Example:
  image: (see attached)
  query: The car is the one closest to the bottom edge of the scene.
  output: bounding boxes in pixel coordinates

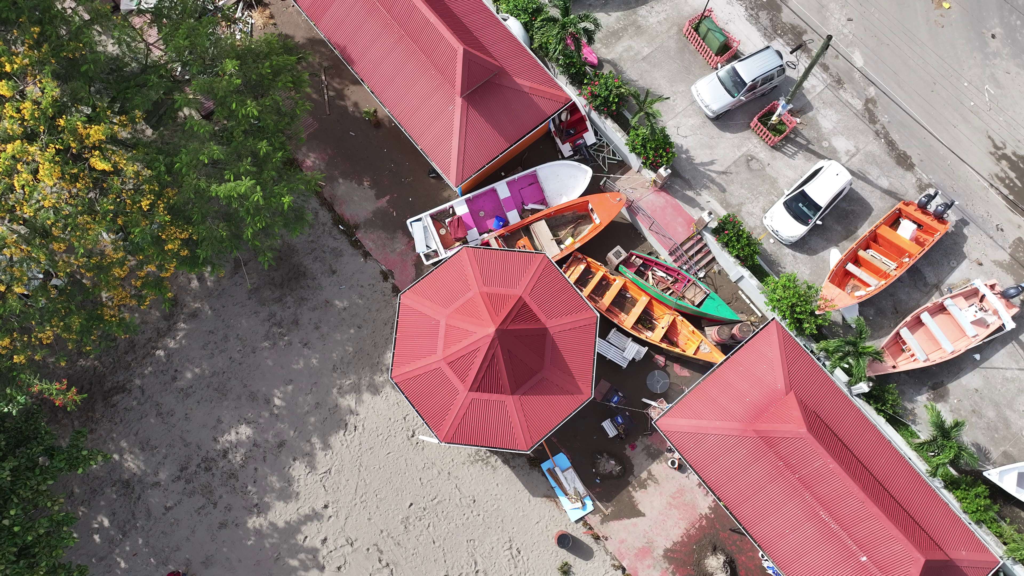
[762,151,860,245]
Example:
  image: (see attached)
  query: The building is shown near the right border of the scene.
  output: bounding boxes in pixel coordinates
[647,312,1009,576]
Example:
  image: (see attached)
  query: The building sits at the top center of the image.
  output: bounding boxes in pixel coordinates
[286,0,579,198]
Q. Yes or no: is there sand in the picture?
Yes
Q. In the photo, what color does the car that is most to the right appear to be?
white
